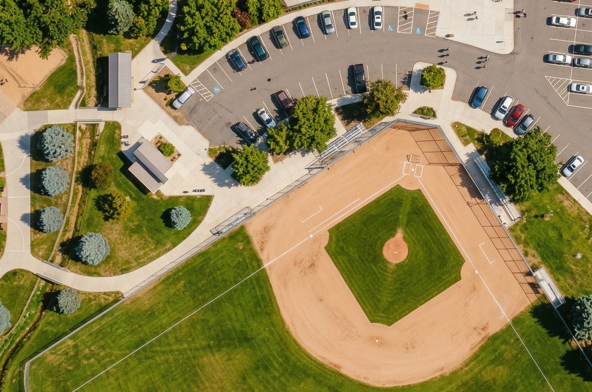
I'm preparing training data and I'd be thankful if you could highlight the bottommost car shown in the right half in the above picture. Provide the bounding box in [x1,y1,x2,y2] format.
[564,154,584,177]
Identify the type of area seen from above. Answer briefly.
sports ground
